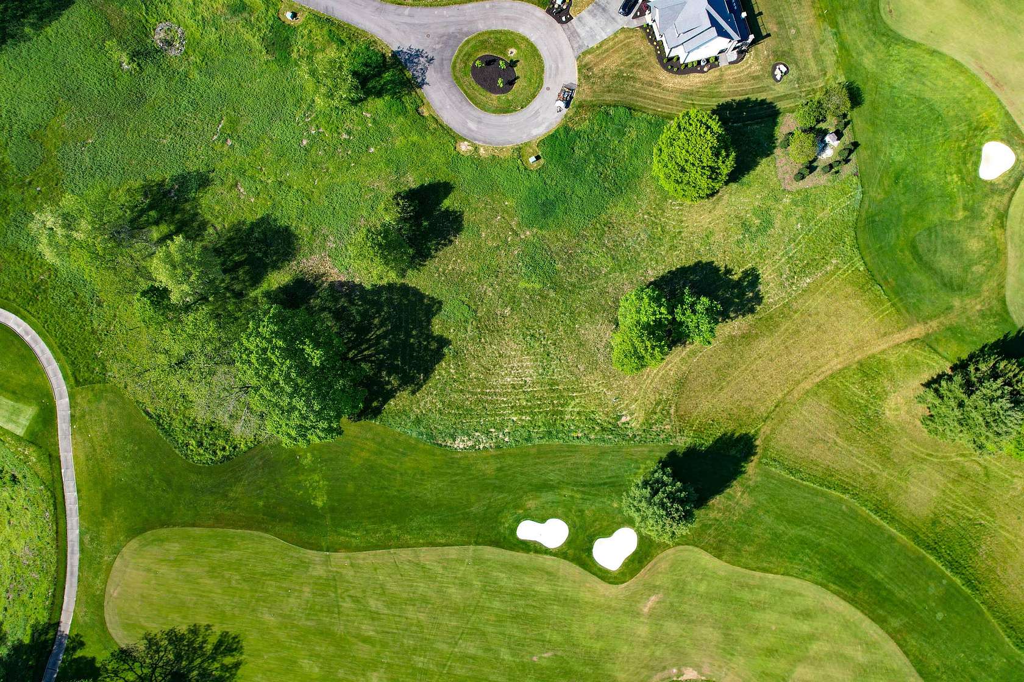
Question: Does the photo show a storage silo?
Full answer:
No, this view has no storage silo in it.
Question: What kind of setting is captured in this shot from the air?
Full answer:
This image shows a golf course.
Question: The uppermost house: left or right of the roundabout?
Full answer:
From the viewer's perspective, the uppermost house falls to the right of the roundabout.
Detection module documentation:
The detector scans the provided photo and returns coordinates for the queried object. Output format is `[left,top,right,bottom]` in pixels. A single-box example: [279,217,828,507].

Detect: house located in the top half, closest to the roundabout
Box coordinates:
[641,0,758,63]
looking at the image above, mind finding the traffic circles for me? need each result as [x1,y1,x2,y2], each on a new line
[410,0,576,145]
